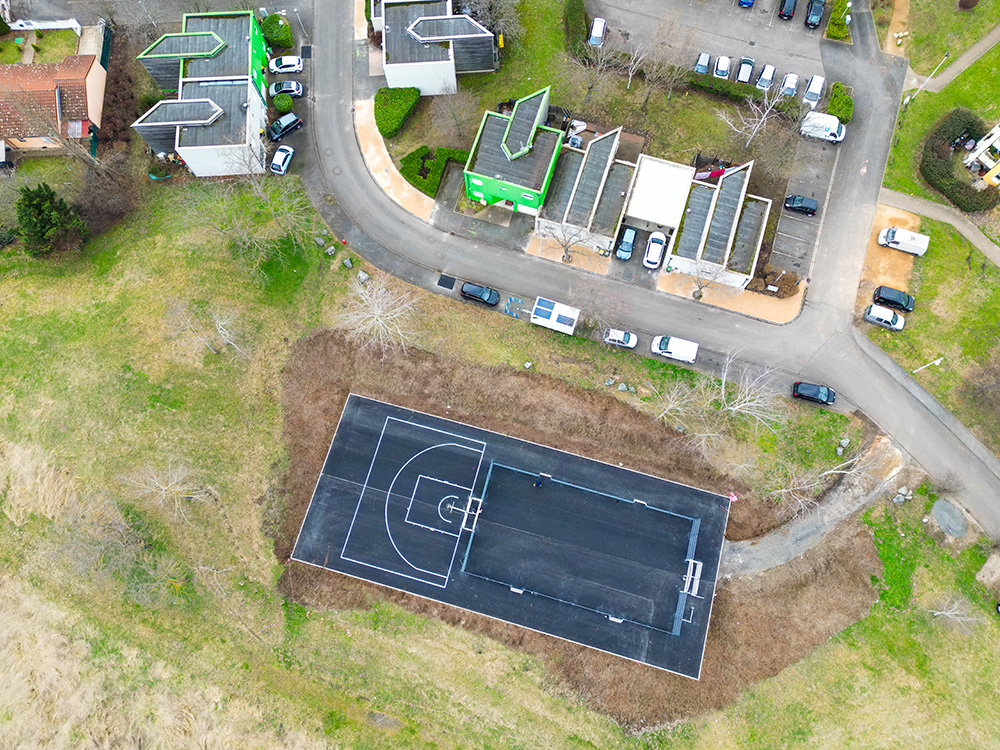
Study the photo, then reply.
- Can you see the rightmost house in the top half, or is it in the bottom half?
top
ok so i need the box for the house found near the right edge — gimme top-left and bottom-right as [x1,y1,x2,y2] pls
[957,126,1000,196]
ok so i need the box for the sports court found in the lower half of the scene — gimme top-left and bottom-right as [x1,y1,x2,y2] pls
[290,394,732,681]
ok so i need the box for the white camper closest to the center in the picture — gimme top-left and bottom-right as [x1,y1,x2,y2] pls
[522,298,579,334]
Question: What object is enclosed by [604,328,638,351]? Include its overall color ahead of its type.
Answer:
white car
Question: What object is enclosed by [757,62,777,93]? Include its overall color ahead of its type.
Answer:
white car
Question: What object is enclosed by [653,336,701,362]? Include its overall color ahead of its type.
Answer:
white vehicle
